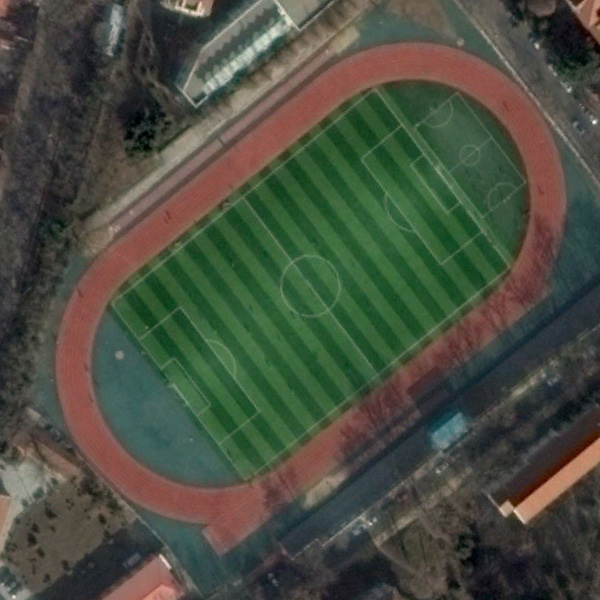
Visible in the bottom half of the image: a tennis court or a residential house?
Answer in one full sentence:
The one visible in the bottom half of the image is a residential house.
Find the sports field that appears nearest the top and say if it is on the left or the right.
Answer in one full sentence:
It is on the right.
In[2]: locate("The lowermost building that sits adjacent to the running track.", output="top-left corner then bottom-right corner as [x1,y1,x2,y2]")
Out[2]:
[95,553,195,600]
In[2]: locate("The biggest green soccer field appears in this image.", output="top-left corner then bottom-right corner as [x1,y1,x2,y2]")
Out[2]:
[107,86,515,481]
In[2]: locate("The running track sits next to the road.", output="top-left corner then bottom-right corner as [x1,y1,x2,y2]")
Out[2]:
[51,40,570,558]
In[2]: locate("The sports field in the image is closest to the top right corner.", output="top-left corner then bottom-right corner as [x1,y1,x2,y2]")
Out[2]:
[388,83,530,257]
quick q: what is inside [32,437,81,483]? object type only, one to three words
house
